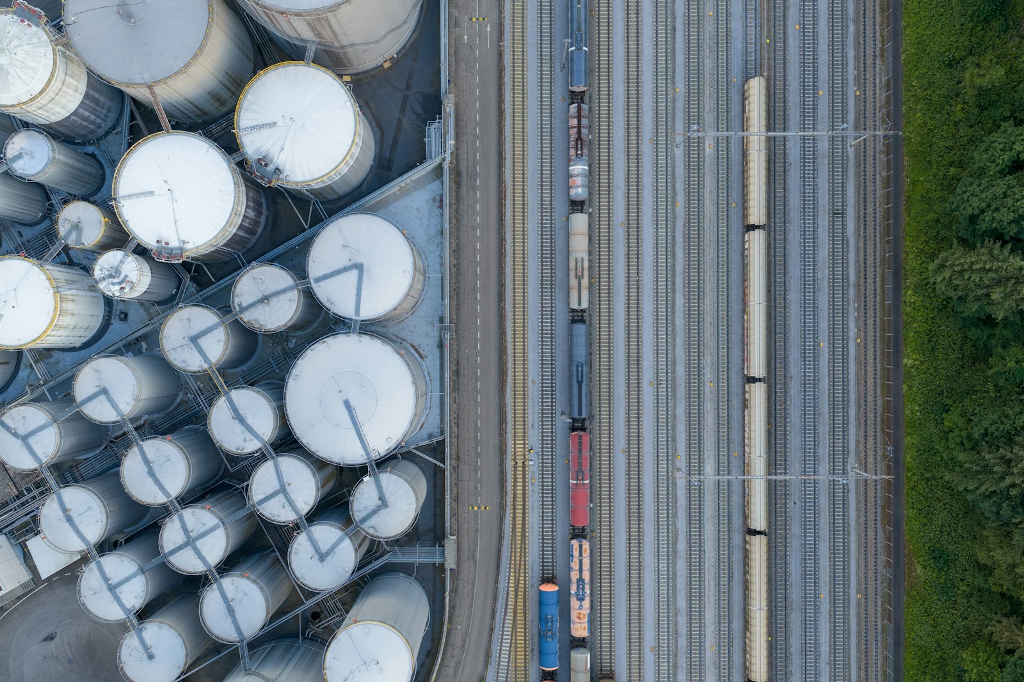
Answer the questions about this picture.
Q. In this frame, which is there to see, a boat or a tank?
tank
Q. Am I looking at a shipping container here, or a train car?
train car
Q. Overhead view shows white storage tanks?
Yes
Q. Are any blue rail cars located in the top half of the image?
Yes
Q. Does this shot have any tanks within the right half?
No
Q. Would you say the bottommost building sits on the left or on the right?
left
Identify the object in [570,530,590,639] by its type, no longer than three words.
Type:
rail car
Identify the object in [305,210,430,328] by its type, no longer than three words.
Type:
storage tank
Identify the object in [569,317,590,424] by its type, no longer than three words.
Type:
rail car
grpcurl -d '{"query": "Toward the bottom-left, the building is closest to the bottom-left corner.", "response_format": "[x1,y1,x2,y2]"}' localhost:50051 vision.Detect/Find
[0,526,42,598]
